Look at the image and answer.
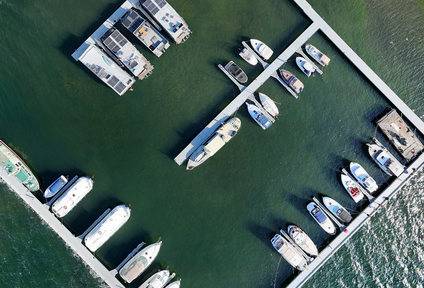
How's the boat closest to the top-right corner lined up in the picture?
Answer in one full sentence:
The boat closest to the top-right corner has been laid out on a diagonal relative to the frame.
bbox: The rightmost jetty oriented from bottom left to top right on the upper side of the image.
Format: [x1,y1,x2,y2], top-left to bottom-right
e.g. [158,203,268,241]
[174,23,318,166]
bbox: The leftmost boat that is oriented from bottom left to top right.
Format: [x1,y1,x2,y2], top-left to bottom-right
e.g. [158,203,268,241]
[44,175,68,198]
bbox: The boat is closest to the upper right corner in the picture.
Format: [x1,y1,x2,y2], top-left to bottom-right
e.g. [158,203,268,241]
[306,46,332,67]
